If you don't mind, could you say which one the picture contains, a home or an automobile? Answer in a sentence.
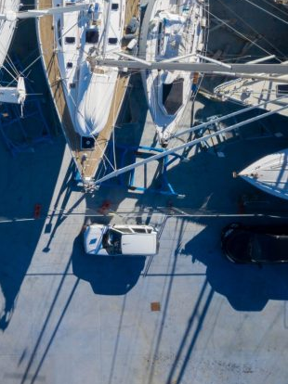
There is an automobile in the scene.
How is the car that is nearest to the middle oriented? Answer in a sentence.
The car that is nearest to the middle is laid out horizontally.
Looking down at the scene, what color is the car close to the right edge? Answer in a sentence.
The car close to the right edge is black.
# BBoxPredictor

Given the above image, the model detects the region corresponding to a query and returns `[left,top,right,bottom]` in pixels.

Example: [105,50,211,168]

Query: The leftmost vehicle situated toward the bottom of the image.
[78,221,164,264]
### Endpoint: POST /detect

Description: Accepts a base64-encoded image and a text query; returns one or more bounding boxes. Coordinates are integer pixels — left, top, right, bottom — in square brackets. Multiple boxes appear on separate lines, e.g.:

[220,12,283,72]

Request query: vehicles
[78,221,164,264]
[213,220,288,267]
